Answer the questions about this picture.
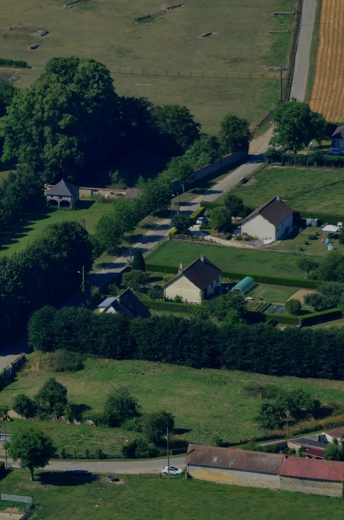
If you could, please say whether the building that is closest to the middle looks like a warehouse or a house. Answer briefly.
house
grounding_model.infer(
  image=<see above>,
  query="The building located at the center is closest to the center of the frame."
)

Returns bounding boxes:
[163,249,218,303]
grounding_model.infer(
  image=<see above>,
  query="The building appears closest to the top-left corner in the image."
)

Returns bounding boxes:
[45,178,78,208]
